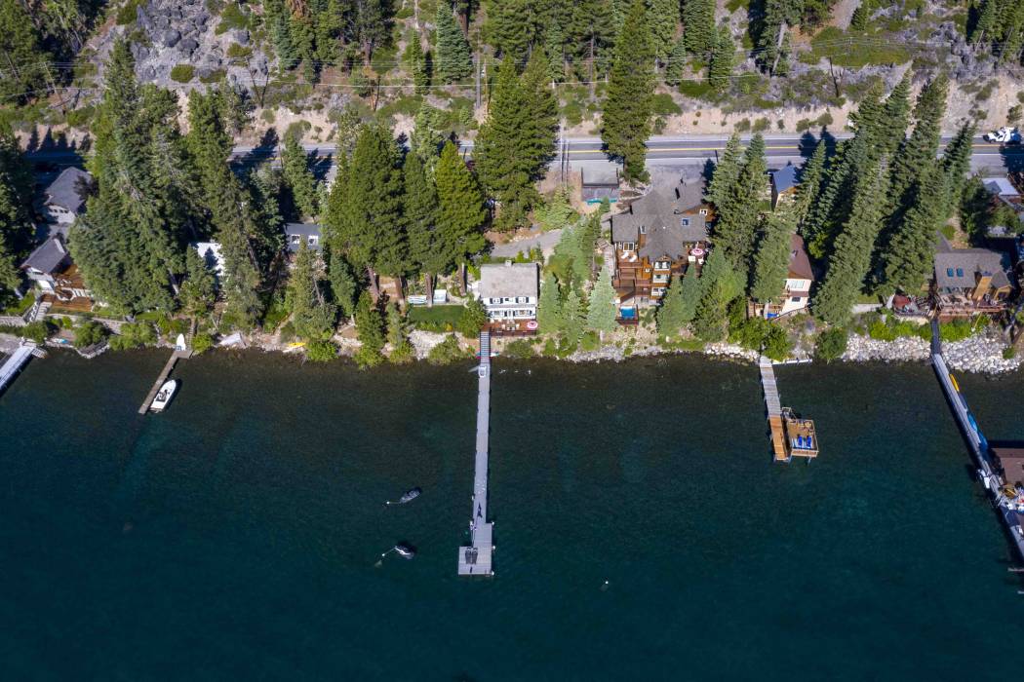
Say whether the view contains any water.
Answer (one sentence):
Yes, the picture does contain water.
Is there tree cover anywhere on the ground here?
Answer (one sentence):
Yes, there is tree cover in the image.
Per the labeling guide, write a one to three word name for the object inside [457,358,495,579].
pier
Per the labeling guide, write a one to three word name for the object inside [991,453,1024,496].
building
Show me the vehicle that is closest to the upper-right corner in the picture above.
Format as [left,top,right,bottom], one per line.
[983,127,1023,143]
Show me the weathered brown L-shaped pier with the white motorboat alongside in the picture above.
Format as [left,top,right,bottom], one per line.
[138,327,202,417]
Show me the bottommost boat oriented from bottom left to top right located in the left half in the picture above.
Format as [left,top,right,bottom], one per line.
[397,485,422,503]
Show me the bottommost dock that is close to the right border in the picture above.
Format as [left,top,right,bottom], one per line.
[926,361,1024,584]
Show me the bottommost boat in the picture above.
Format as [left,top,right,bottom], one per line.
[385,545,416,562]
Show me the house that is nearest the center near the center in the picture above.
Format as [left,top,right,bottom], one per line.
[470,259,539,360]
